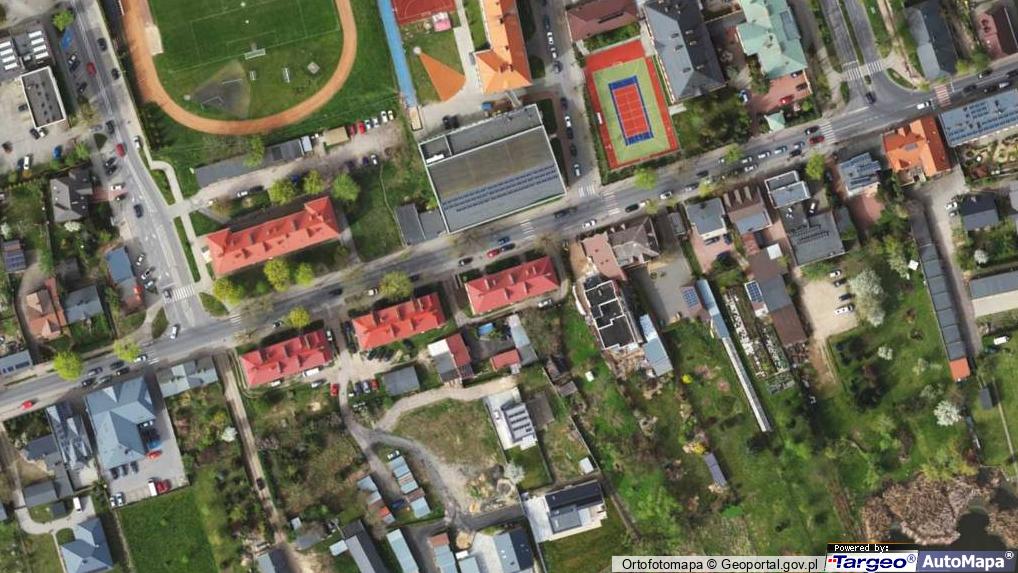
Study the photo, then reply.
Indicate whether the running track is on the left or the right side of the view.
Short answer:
left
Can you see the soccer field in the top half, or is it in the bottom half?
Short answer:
top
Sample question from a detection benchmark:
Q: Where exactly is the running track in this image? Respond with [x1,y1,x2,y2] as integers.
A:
[122,0,358,135]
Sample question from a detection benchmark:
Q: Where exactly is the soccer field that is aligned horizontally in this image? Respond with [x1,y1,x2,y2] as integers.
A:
[150,0,339,72]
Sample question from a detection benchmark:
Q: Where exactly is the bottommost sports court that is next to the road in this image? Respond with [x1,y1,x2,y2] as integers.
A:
[586,40,679,169]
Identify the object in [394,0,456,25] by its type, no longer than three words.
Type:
sports court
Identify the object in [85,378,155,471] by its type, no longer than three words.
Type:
house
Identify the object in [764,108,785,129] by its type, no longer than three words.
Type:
gazebo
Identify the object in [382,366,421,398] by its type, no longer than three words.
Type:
building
